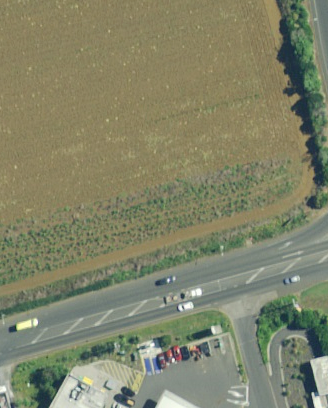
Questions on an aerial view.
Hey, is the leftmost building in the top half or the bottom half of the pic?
bottom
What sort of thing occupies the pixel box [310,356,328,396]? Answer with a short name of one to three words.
house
